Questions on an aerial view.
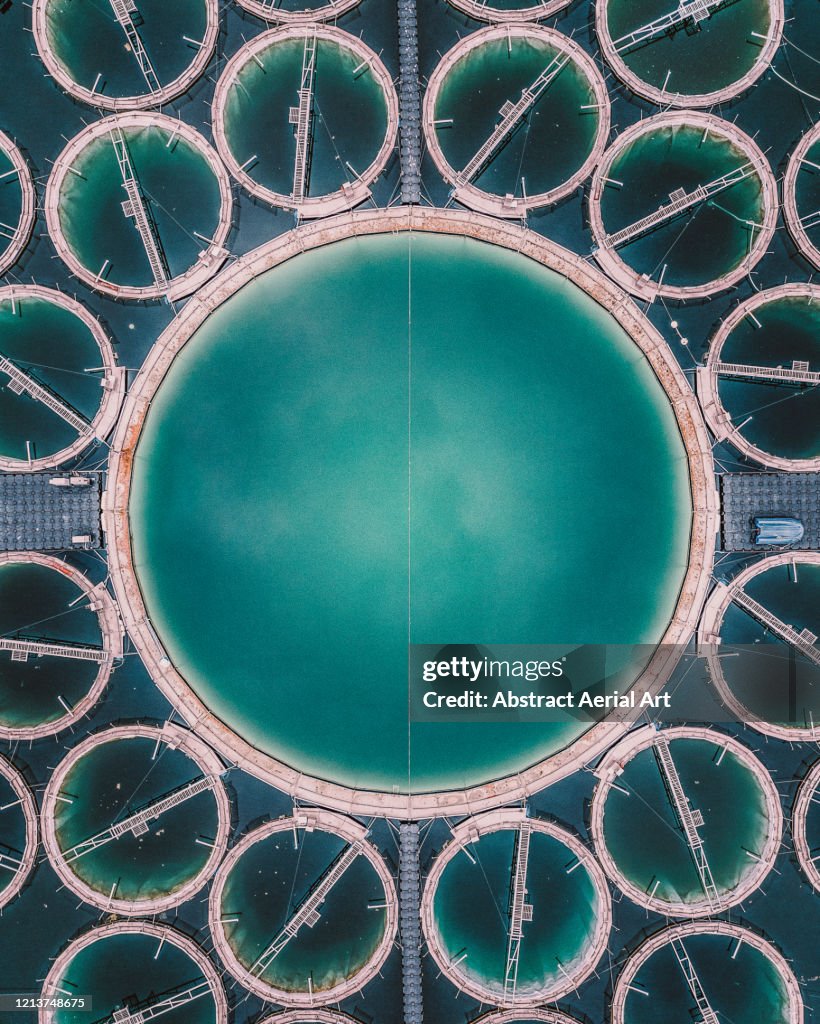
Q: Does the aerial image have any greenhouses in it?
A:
No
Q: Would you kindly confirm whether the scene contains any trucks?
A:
No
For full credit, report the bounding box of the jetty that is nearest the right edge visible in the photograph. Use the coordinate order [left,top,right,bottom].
[712,458,820,567]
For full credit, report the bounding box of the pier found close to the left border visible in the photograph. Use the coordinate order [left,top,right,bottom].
[0,455,108,564]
